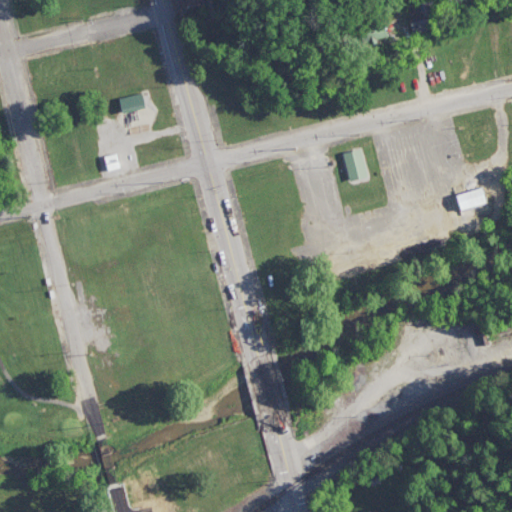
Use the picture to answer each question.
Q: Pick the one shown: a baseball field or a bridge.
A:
bridge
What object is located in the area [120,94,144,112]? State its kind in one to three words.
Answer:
building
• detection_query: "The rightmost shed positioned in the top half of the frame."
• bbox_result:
[457,186,488,212]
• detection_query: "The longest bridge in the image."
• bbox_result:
[241,352,294,436]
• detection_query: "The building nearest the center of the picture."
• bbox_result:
[344,148,369,182]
